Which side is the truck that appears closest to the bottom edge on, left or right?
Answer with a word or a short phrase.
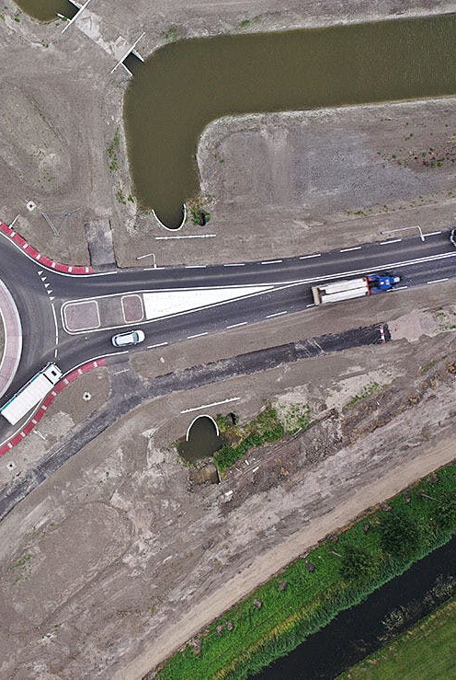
left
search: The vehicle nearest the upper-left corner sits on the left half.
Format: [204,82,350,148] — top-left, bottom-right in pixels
[111,328,143,346]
